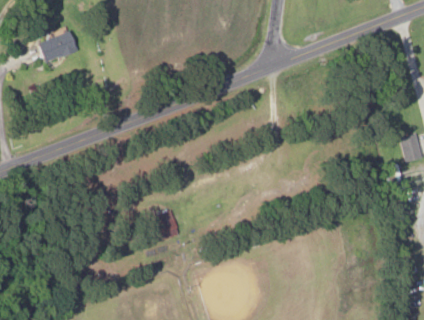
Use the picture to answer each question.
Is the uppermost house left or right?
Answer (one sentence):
It is on the left.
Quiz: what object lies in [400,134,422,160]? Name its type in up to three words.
shed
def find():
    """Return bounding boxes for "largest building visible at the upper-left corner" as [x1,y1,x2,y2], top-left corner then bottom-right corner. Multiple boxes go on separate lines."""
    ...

[36,26,76,62]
